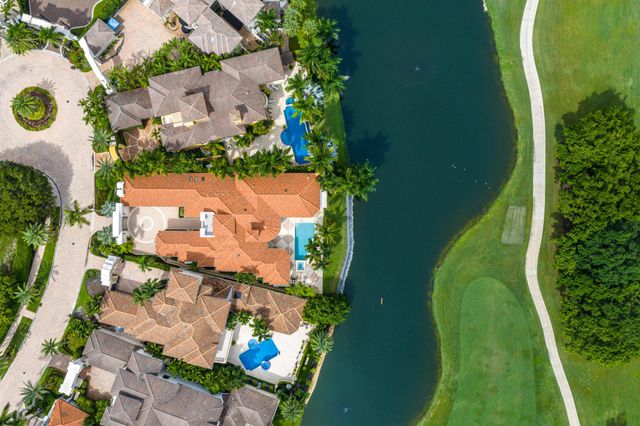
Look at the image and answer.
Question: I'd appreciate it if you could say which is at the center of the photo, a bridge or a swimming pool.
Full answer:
You can see a swimming pool at the center of the photo.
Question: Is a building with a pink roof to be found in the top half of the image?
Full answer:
No, looking in the top half of the image, there is no building with a pink roof.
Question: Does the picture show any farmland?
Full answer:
No, there is no farmland in the image.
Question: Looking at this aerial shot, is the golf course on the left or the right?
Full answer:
It is on the right.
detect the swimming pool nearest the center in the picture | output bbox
[291,220,319,263]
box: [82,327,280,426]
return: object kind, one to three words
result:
house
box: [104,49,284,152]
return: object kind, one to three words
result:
house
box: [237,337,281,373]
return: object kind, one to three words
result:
swimming pool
